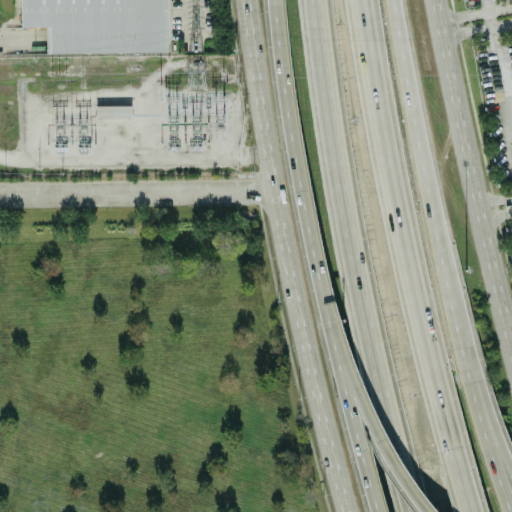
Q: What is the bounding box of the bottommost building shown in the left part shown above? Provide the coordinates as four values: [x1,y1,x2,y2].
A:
[96,106,134,119]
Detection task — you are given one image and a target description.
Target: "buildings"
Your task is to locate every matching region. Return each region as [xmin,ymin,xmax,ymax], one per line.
[22,0,170,54]
[96,106,134,119]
